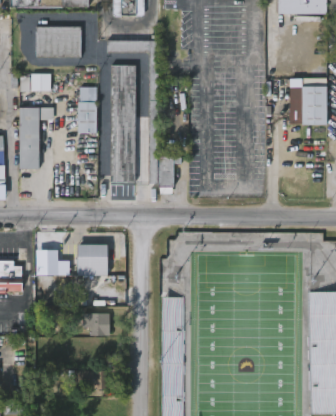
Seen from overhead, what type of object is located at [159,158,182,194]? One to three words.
shed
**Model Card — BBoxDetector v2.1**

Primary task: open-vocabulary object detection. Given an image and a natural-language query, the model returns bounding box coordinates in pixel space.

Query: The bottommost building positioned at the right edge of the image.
[290,78,326,126]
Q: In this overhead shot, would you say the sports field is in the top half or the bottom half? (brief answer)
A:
bottom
